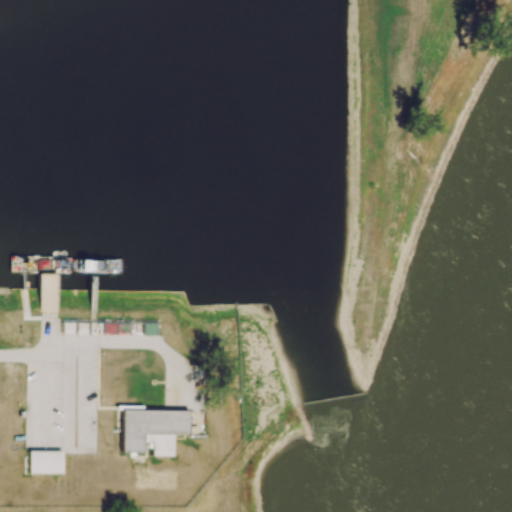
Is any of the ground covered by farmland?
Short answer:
No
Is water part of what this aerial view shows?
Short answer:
Yes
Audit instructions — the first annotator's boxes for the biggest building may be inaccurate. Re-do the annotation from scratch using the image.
[124,410,191,458]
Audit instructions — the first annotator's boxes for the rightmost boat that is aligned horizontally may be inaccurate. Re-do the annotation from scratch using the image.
[74,259,124,274]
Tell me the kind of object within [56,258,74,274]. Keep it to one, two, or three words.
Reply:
boat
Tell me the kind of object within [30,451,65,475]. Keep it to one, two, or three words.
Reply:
shed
